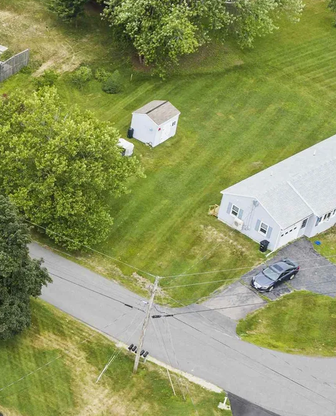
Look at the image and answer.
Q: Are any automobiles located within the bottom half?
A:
Yes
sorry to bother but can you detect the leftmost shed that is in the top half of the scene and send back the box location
[123,100,176,141]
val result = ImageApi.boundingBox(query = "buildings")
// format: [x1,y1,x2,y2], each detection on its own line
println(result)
[203,136,336,257]
[123,100,176,141]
